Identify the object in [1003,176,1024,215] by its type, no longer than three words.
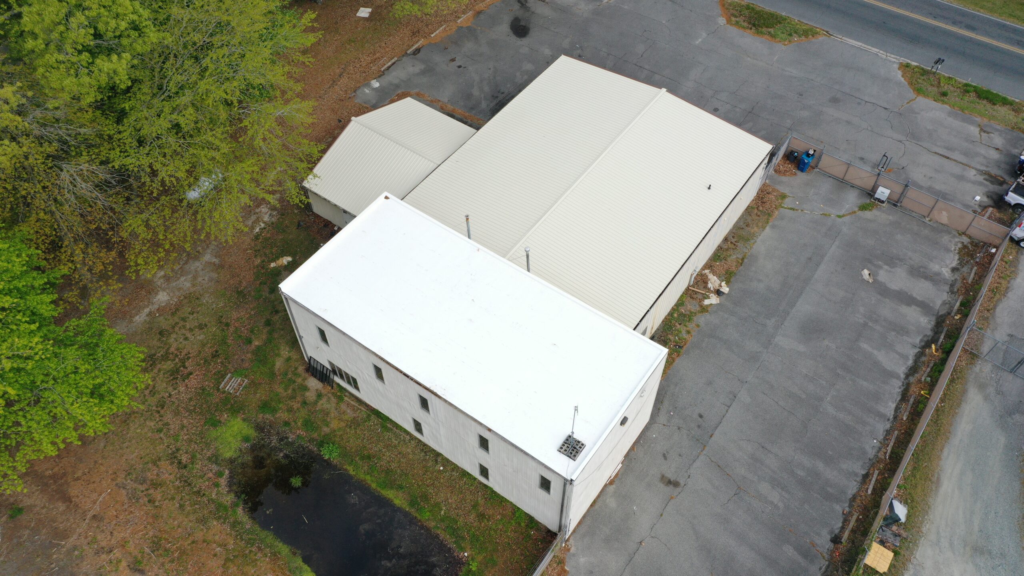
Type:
truck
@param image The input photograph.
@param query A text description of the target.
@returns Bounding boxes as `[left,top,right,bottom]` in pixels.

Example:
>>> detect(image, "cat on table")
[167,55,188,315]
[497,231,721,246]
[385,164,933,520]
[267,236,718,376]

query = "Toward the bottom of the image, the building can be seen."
[277,191,669,538]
